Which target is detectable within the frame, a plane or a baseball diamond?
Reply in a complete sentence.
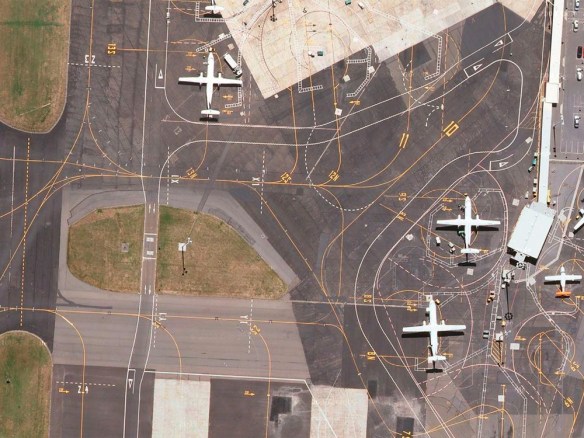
This aerial view contains a plane.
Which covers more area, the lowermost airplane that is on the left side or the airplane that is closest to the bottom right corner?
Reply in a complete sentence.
Compared with the airplane that is closest to the bottom right corner, the lowermost airplane that is on the left side is the bigger one.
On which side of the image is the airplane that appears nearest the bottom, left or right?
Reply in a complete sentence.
The airplane that appears nearest the bottom is on the right side of the image.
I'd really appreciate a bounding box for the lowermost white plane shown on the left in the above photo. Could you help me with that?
[179,52,242,115]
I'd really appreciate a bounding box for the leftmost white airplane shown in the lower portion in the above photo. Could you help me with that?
[402,301,466,363]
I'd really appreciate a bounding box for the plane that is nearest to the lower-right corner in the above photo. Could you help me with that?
[545,265,582,295]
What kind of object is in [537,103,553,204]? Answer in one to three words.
building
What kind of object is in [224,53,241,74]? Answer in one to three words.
vehicle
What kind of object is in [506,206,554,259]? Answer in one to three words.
building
